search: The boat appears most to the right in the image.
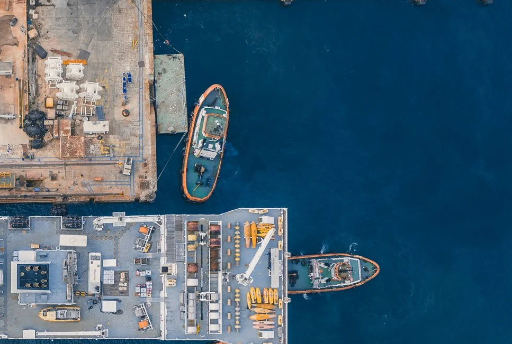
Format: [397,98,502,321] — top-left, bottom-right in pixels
[290,250,386,296]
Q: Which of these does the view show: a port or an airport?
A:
port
